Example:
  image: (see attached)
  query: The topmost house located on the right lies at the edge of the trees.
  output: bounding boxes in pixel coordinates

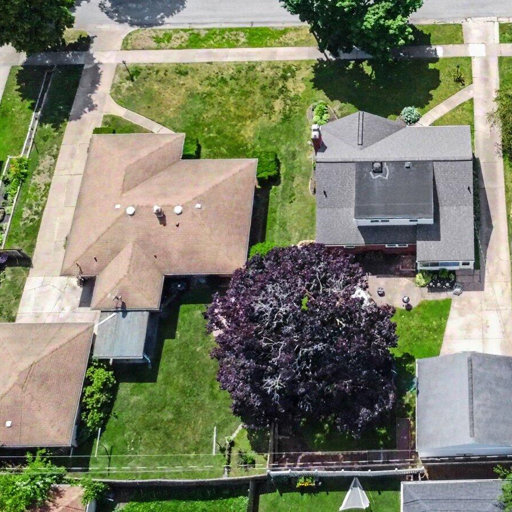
[310,110,475,271]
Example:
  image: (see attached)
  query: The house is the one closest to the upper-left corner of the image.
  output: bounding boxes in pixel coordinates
[58,132,259,313]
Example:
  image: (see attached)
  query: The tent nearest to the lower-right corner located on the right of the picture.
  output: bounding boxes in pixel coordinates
[338,475,370,512]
